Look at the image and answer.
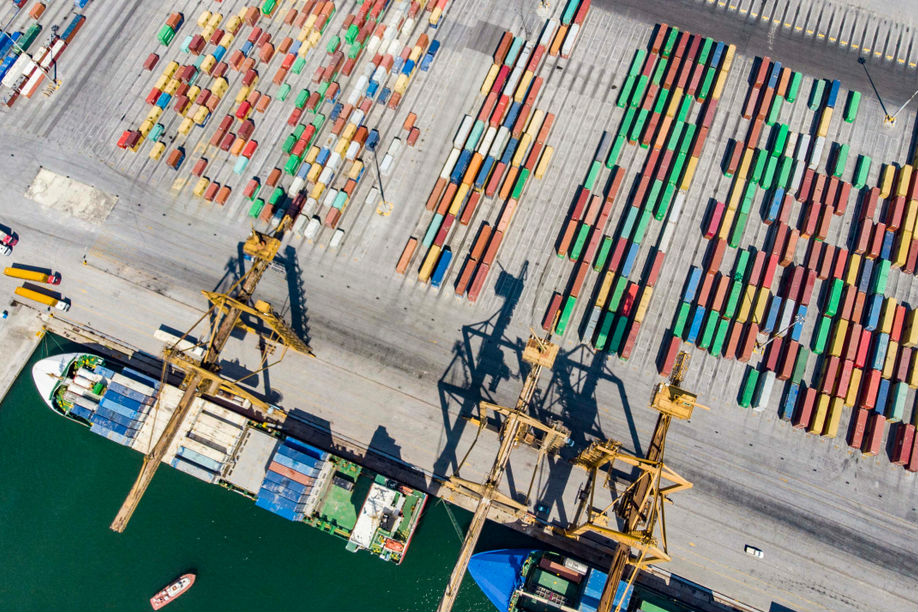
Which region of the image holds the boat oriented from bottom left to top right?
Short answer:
bottom left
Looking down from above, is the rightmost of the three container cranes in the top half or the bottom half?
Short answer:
bottom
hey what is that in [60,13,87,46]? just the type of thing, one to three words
shipping container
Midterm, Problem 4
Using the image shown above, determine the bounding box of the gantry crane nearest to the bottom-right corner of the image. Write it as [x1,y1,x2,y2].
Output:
[550,360,712,612]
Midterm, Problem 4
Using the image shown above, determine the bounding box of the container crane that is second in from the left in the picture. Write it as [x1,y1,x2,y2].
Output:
[432,311,563,612]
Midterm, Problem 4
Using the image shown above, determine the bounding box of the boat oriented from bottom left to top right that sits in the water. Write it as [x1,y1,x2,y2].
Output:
[149,574,195,610]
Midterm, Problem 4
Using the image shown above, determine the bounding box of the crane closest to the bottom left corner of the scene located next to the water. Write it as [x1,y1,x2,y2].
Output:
[102,205,310,536]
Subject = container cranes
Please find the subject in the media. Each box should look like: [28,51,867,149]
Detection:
[432,311,563,612]
[550,360,712,612]
[102,205,310,536]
